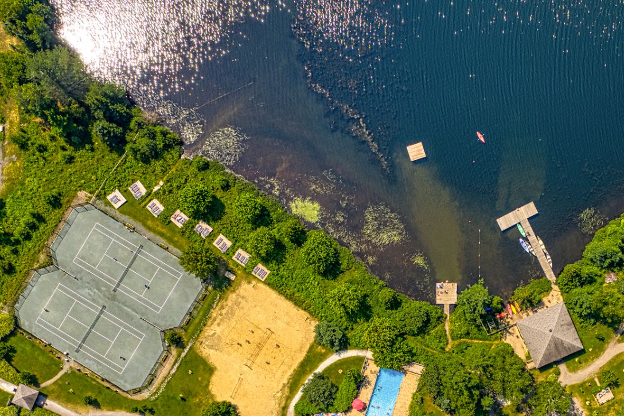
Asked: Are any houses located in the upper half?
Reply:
No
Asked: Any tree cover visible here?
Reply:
Yes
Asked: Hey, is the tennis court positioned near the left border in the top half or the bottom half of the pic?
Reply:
bottom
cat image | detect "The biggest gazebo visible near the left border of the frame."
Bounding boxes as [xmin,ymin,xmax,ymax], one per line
[11,385,43,411]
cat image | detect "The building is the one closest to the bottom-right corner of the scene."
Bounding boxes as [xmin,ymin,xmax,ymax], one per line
[516,302,584,369]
